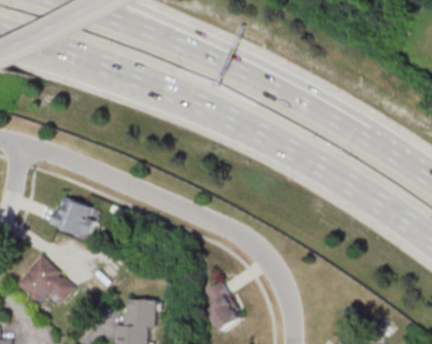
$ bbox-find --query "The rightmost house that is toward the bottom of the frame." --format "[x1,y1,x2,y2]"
[204,282,244,328]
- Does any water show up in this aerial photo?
No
